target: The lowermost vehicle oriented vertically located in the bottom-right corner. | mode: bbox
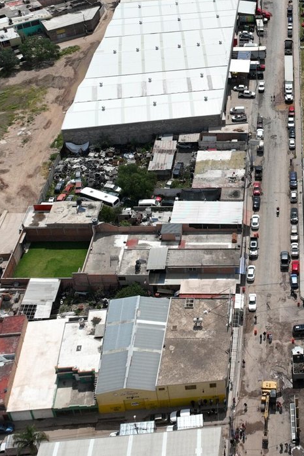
[262,378,276,431]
